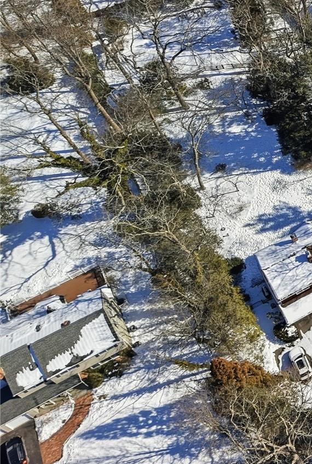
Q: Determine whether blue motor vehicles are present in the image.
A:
No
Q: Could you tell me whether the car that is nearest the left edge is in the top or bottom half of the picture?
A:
bottom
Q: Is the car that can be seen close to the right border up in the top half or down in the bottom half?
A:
bottom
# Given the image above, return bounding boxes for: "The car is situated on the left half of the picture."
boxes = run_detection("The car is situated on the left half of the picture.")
[3,434,27,464]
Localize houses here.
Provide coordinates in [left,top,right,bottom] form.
[256,225,312,334]
[0,260,129,440]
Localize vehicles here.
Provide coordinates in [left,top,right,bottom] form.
[289,347,312,381]
[3,434,27,464]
